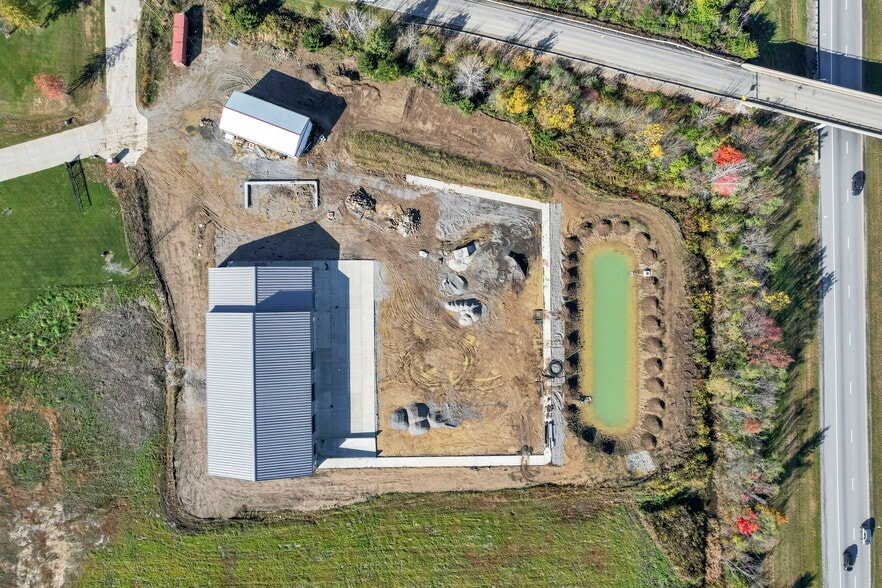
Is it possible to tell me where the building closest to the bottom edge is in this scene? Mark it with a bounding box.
[207,266,319,482]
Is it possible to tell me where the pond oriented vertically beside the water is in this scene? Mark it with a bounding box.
[578,241,641,441]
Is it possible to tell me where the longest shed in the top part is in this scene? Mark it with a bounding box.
[220,91,312,159]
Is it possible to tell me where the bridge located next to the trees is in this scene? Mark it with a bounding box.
[743,60,882,141]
